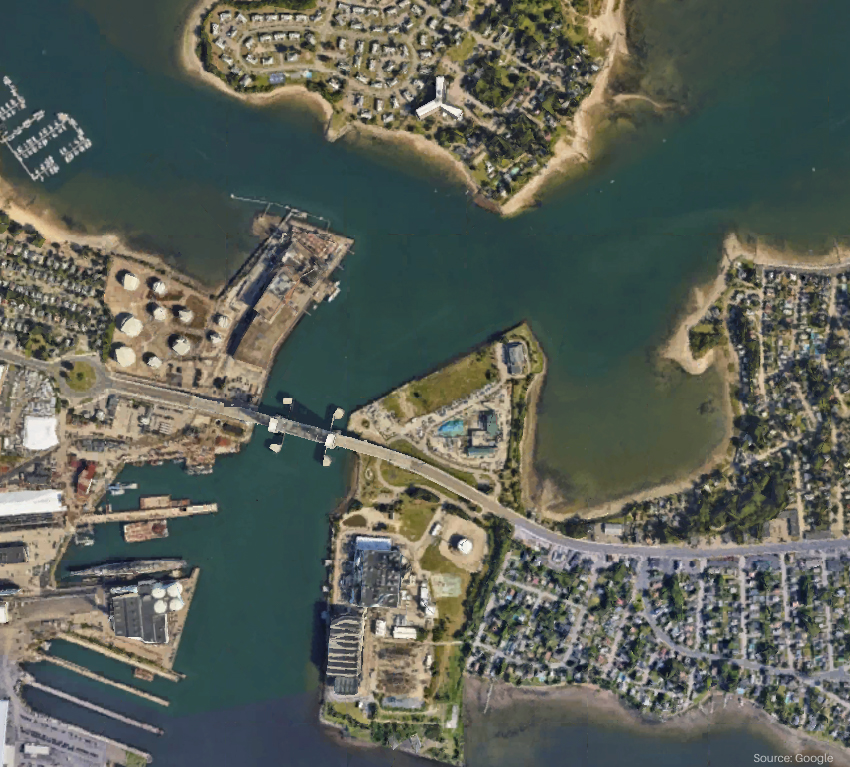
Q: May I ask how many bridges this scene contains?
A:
1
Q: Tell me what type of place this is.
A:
port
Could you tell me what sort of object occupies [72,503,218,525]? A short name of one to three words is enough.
pier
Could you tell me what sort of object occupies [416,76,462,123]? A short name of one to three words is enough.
building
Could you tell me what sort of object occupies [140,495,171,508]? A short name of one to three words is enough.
ship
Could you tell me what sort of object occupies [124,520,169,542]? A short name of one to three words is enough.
ship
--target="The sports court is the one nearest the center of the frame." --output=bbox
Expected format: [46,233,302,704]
[431,574,461,596]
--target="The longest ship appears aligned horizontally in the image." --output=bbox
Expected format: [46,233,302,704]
[71,559,188,577]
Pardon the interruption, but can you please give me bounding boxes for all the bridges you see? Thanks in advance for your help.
[105,377,502,515]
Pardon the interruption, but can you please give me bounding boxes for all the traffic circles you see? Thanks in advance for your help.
[57,352,105,399]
